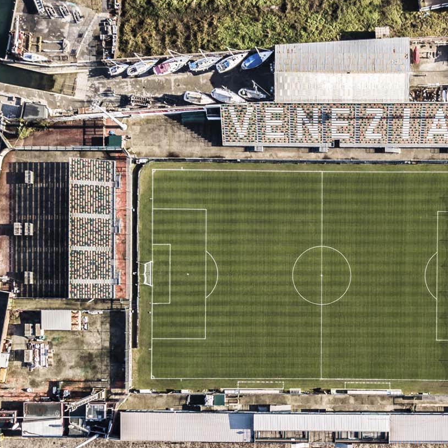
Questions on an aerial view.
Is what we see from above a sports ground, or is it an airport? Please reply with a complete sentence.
This image shows a sports ground.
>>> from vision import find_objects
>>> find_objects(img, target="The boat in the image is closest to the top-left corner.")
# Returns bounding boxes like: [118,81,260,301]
[23,51,48,64]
